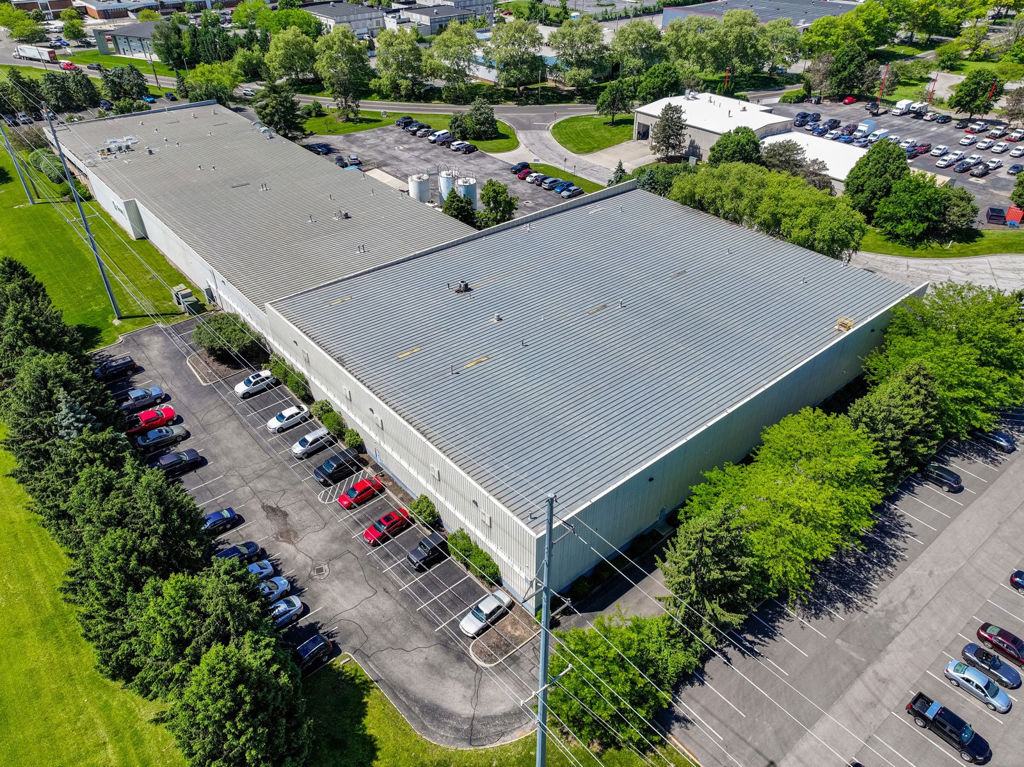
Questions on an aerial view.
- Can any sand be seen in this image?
No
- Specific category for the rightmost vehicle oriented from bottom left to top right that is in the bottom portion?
car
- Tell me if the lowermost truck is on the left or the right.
right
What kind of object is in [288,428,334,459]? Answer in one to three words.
car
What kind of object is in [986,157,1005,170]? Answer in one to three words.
vehicle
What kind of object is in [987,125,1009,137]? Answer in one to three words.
vehicle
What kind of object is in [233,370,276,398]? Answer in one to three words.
car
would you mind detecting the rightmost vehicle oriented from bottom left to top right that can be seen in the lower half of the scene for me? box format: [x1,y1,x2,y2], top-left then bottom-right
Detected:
[449,597,506,645]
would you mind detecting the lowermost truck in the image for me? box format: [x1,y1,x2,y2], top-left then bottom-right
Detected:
[901,687,994,767]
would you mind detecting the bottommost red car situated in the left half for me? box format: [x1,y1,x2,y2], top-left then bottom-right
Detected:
[362,509,414,546]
